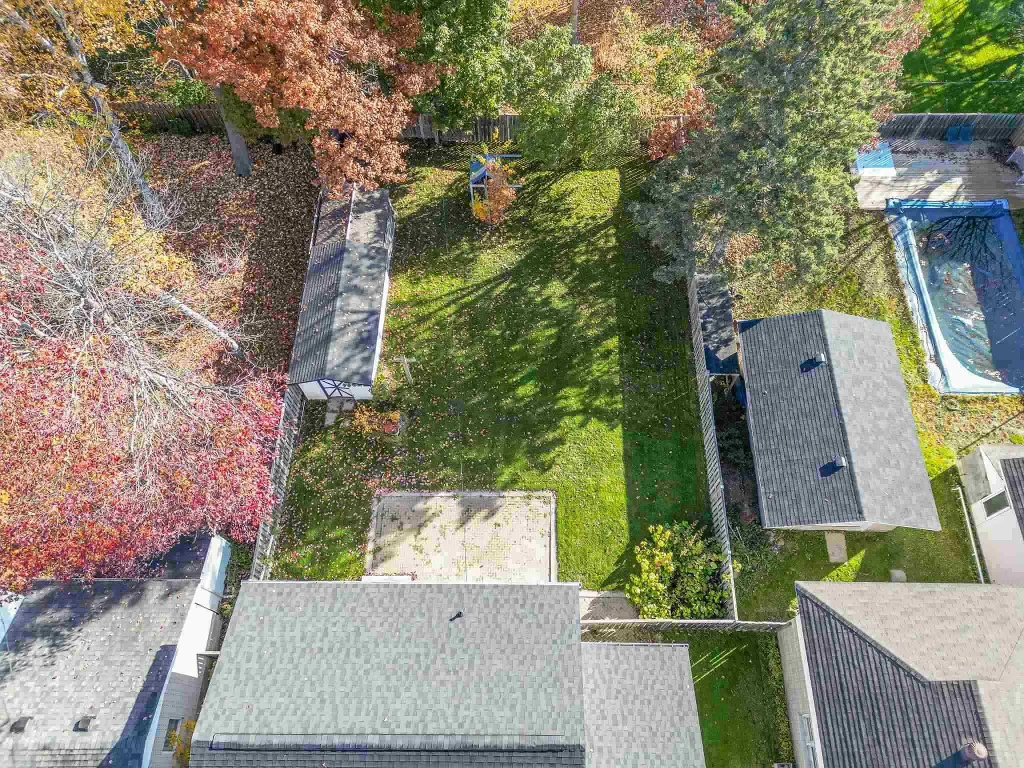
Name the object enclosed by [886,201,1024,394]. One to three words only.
swimming pool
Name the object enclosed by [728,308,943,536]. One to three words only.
building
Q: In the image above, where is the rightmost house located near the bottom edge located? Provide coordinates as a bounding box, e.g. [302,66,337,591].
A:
[782,578,1024,768]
